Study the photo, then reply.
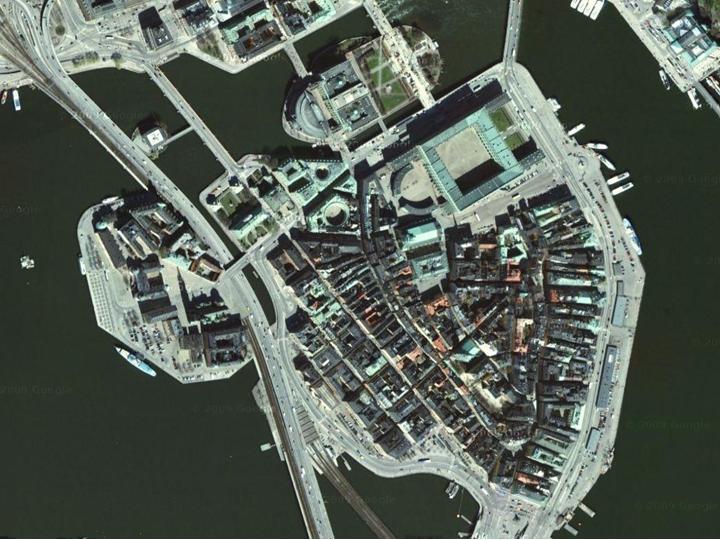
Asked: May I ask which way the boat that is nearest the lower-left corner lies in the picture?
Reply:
on a diagonal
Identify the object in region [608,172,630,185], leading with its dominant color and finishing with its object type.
white boat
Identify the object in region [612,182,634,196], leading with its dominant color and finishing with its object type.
white boat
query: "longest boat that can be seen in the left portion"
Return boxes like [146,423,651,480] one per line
[114,346,158,378]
